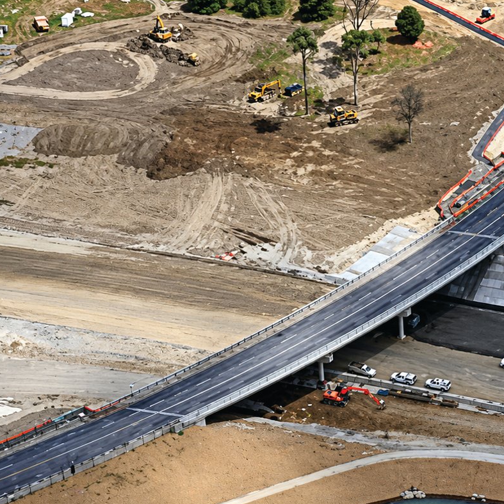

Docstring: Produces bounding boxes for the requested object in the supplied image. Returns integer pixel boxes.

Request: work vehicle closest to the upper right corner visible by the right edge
[475,7,496,24]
